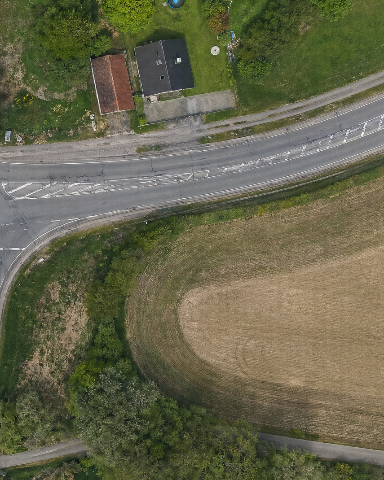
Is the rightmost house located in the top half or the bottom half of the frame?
top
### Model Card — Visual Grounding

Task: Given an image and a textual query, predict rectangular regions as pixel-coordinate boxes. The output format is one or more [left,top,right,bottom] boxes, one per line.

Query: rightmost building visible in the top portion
[134,39,195,98]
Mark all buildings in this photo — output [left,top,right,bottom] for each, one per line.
[134,39,195,98]
[91,54,135,116]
